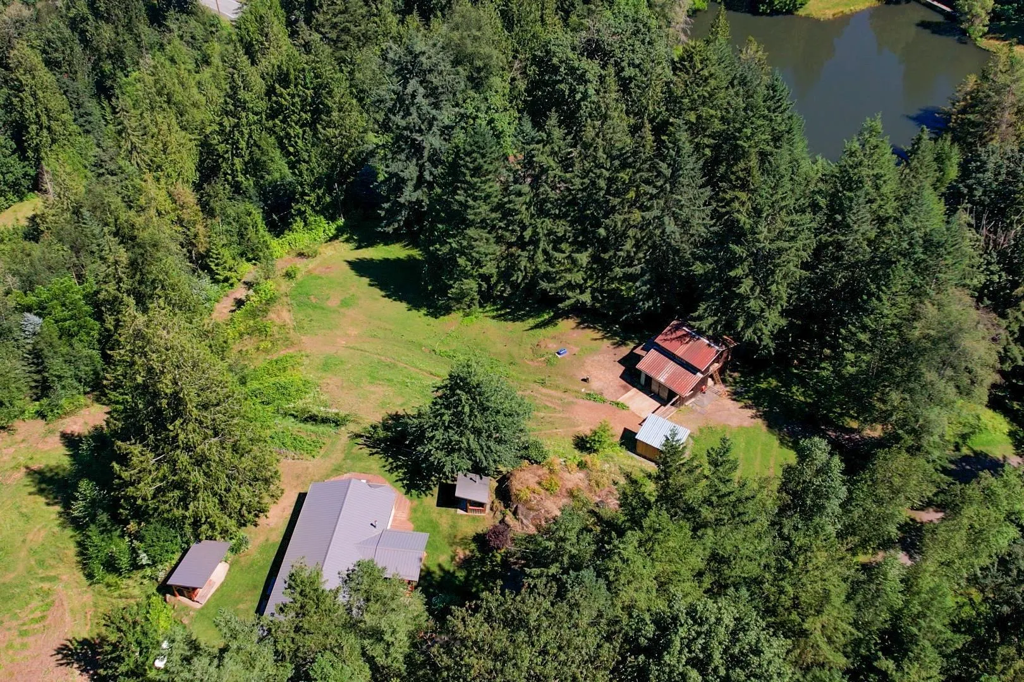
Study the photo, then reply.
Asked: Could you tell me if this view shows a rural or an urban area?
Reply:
rural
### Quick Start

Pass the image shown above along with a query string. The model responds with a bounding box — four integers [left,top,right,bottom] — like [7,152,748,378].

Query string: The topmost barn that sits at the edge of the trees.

[635,317,736,411]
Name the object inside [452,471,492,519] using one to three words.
building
